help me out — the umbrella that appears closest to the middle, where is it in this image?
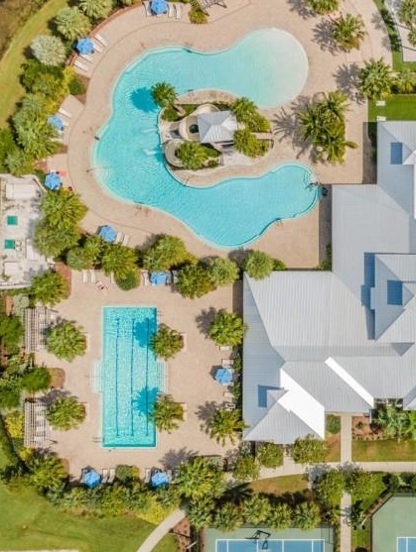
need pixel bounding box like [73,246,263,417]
[151,270,168,287]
